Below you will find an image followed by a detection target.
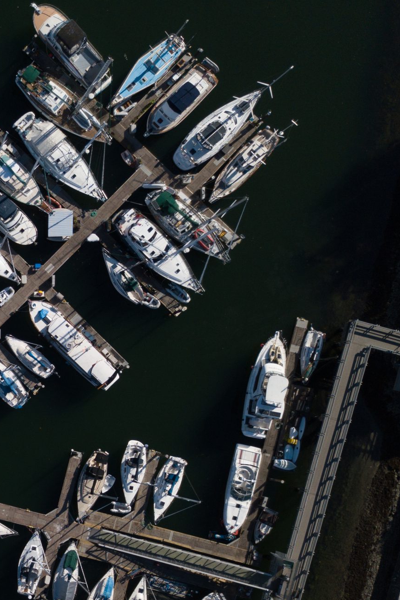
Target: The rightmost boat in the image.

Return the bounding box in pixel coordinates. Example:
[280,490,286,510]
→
[299,329,338,382]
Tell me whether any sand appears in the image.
Yes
